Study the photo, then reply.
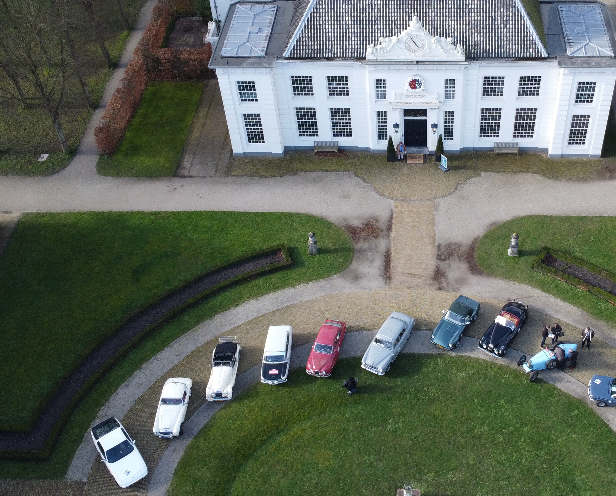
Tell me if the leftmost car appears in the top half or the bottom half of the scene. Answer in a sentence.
The leftmost car is in the bottom half of the image.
